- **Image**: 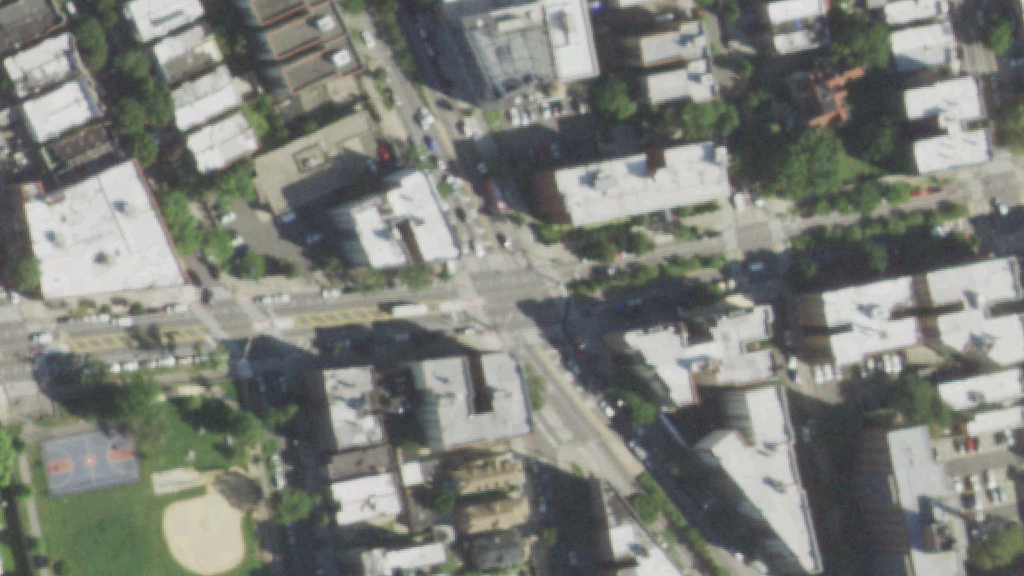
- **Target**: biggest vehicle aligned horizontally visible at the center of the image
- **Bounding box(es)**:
[390,304,431,316]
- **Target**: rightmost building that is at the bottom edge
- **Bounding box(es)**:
[851,427,973,576]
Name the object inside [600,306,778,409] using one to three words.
building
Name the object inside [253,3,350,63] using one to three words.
house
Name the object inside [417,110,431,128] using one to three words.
vehicle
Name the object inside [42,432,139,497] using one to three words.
sports court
